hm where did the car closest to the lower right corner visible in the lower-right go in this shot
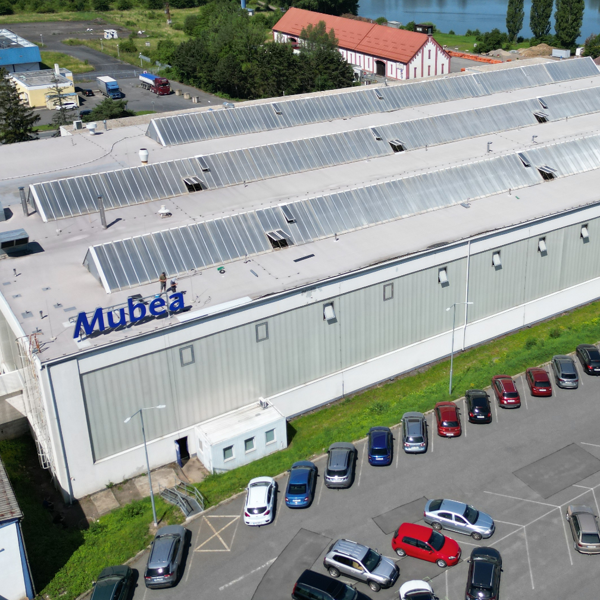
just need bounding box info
[565,500,600,551]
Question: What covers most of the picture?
buildings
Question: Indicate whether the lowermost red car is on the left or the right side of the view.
right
